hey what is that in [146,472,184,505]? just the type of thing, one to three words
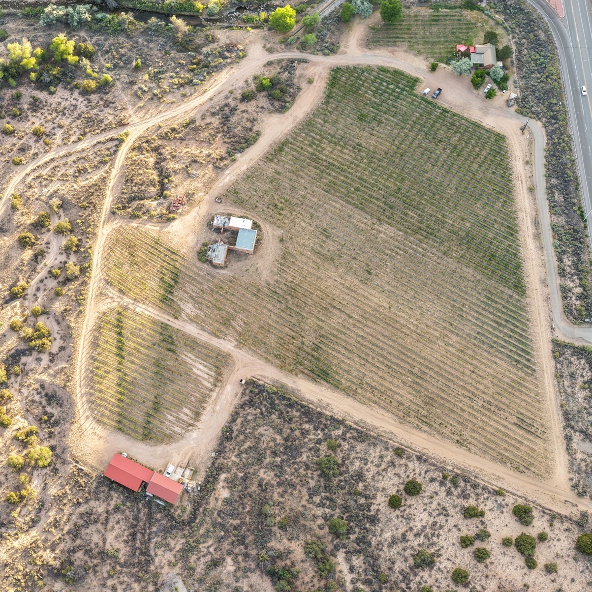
barn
